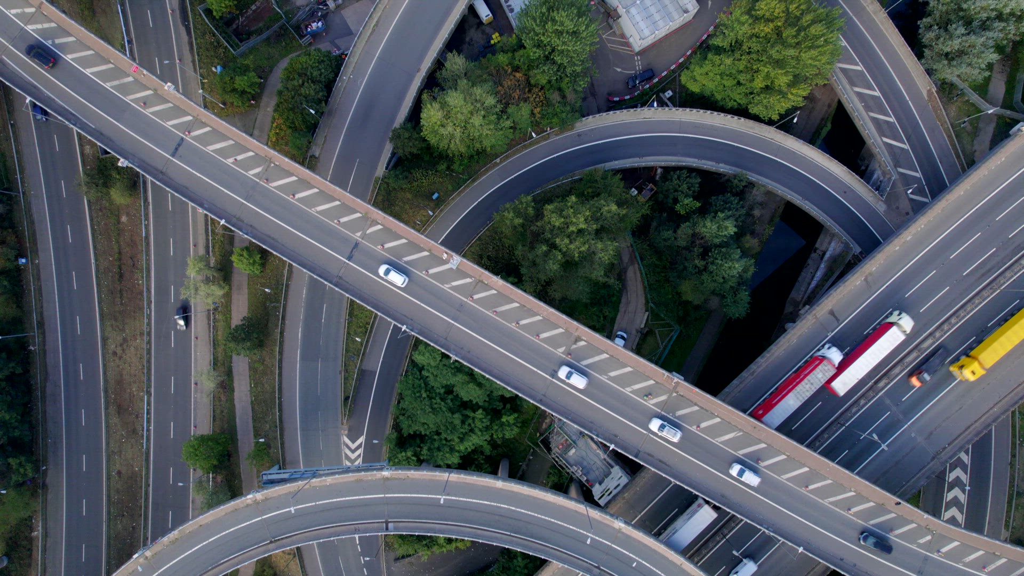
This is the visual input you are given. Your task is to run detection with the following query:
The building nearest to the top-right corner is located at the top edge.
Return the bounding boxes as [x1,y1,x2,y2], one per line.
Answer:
[609,0,704,53]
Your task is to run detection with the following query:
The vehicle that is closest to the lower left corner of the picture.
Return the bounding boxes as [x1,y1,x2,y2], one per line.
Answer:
[172,304,186,329]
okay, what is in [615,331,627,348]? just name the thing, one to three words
vehicle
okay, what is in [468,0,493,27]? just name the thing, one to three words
vehicle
